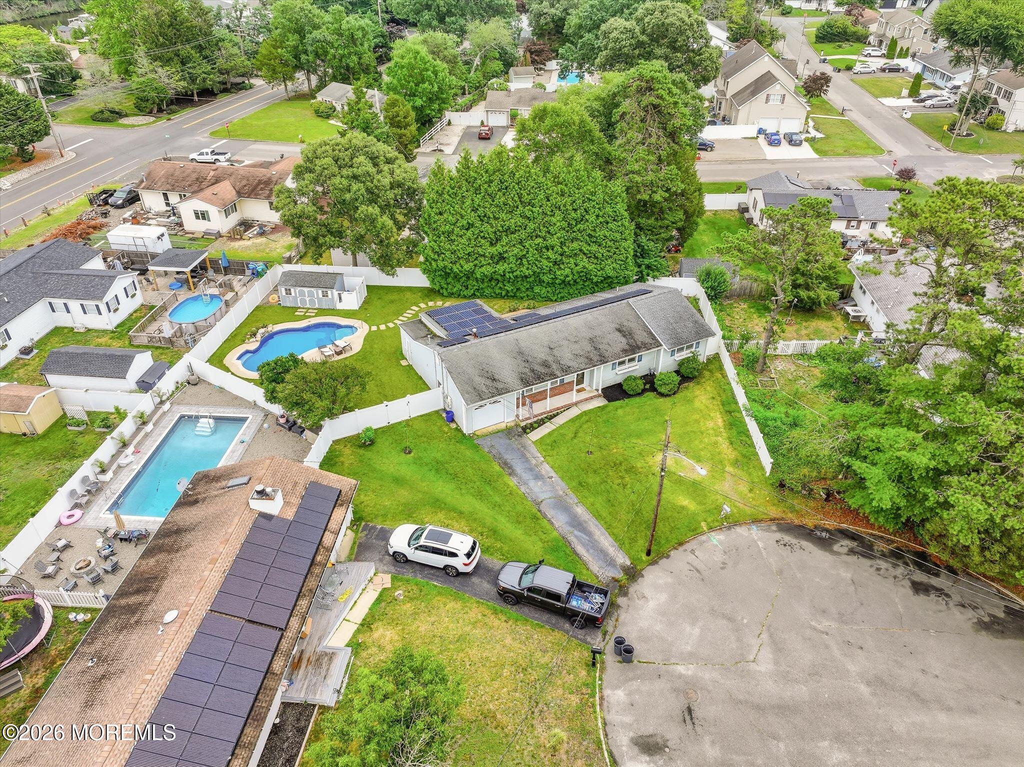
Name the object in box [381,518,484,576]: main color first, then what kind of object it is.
white car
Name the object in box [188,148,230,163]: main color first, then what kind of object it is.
white vehicle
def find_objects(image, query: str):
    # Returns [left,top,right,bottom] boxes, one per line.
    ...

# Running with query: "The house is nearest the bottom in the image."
[0,447,361,767]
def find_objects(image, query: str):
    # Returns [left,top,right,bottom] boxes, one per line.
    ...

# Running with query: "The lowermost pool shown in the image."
[100,412,250,520]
